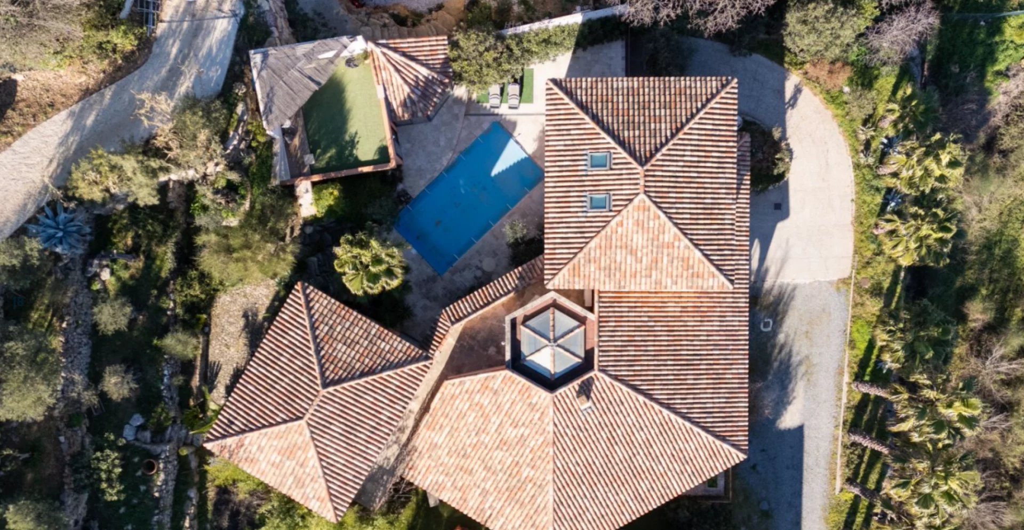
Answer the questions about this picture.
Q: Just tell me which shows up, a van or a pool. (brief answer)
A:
pool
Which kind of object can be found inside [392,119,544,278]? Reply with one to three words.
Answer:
swimming pool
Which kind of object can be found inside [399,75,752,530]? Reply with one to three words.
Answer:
house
